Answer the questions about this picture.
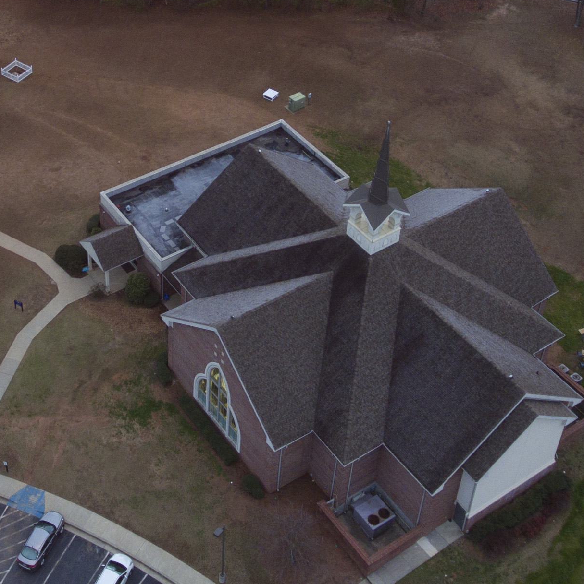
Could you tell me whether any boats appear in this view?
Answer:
No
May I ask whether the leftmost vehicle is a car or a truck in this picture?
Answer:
car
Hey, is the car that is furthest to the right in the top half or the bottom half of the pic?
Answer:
bottom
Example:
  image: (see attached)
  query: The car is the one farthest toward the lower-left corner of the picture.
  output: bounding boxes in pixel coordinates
[14,511,66,576]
